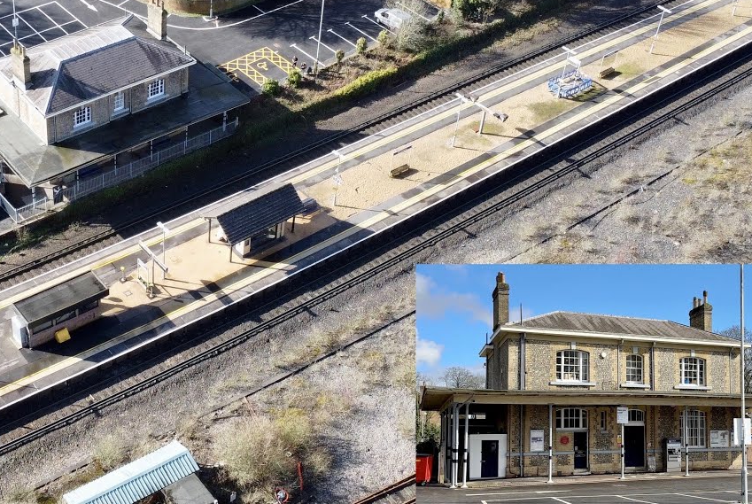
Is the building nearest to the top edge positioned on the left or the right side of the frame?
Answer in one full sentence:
The building nearest to the top edge is on the left side of the image.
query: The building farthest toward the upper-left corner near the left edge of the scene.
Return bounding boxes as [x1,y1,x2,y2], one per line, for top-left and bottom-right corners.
[0,0,253,208]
